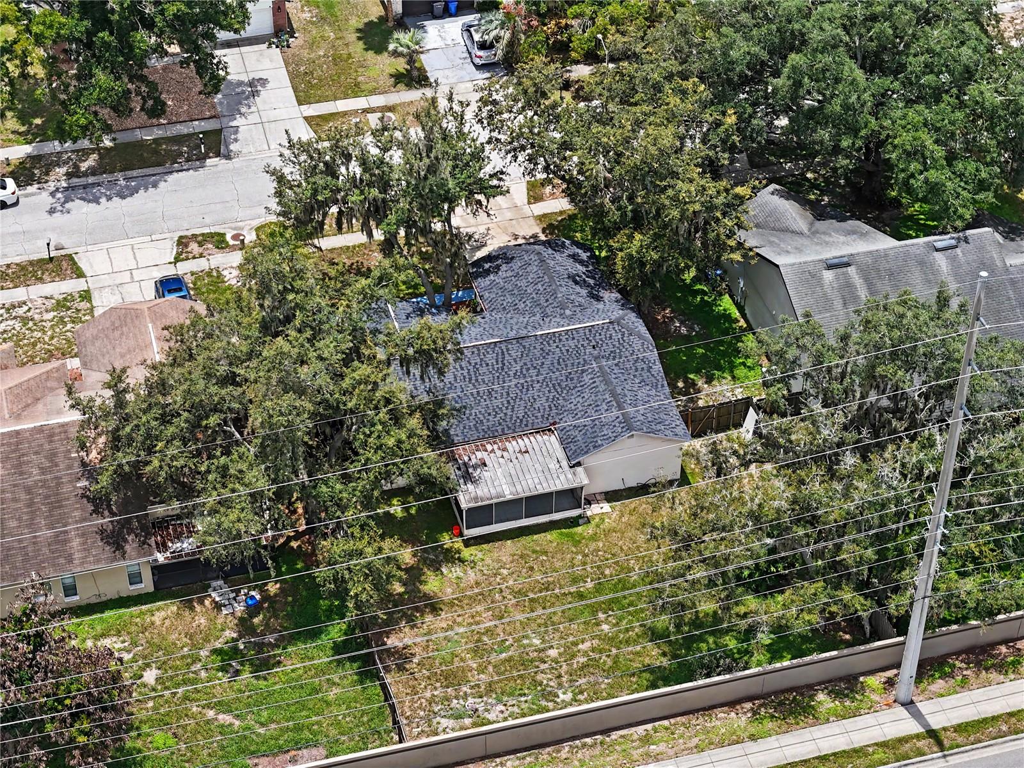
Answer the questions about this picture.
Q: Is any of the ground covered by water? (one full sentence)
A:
No, there's no water in this view.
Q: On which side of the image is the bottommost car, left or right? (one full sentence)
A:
The bottommost car is on the left side of the image.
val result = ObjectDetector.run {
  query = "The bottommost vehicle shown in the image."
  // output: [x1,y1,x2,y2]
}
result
[158,269,192,297]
